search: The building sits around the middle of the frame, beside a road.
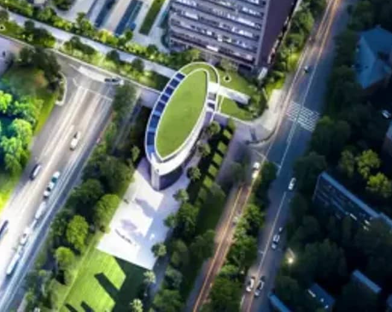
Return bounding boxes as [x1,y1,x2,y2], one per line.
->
[137,61,218,190]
